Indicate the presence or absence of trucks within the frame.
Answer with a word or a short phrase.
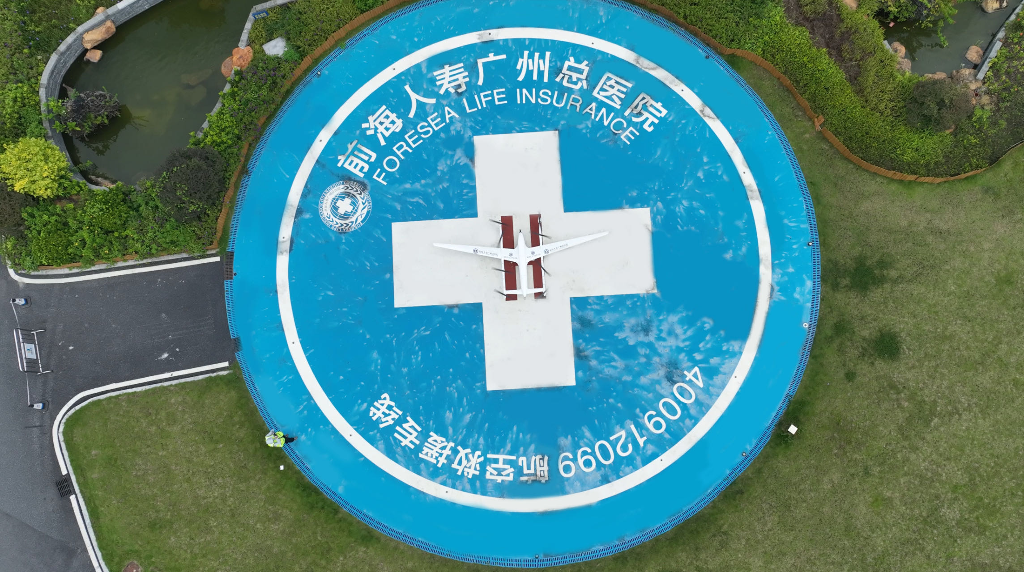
No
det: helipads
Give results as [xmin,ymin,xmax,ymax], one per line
[236,0,812,558]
